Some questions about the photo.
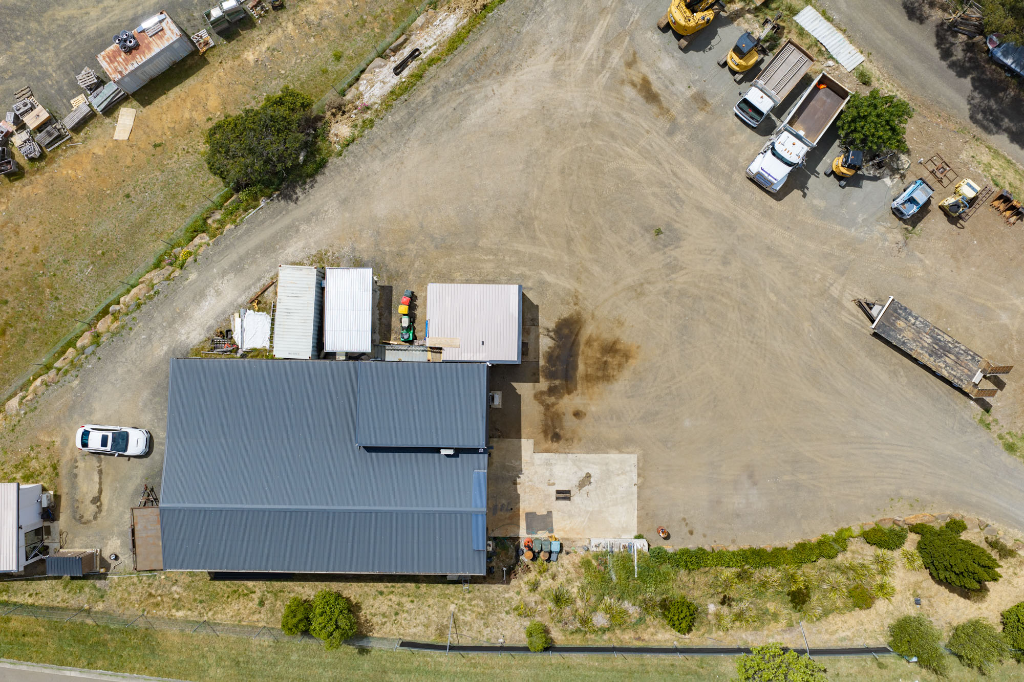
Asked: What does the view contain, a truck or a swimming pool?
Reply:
truck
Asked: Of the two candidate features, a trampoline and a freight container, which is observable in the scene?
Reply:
freight container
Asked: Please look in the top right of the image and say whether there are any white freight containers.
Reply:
No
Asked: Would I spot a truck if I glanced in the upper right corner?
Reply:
Yes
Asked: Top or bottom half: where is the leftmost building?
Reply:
bottom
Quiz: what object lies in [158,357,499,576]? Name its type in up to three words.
building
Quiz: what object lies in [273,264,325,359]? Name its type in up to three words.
shipping container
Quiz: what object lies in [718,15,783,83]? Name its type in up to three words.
work vehicle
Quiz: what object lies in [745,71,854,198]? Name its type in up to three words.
truck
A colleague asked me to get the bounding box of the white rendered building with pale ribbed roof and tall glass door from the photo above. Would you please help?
[0,483,42,574]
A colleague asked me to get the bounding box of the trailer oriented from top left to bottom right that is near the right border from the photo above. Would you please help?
[857,295,1010,396]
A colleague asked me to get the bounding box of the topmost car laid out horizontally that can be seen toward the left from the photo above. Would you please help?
[75,425,149,458]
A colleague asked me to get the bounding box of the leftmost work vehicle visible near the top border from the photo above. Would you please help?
[656,0,727,54]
